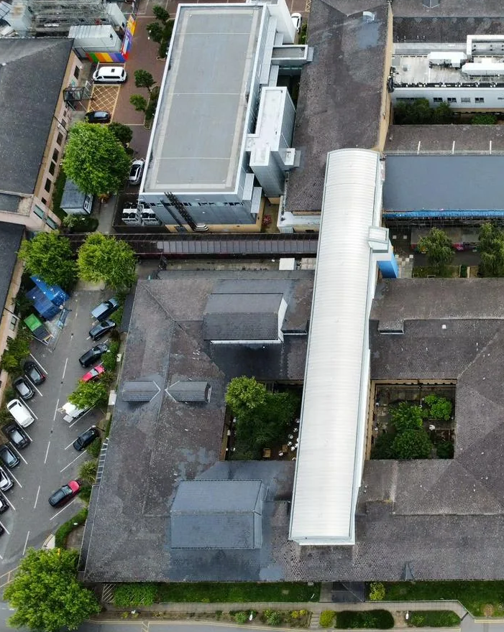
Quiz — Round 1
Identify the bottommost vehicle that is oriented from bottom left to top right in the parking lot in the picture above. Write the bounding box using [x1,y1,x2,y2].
[46,478,81,507]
